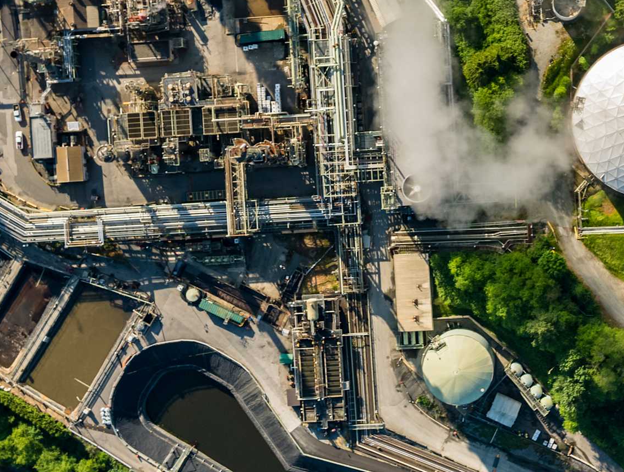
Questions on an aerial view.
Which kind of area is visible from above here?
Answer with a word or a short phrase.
industrial area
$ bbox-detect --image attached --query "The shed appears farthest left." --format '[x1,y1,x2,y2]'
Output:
[32,116,59,160]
